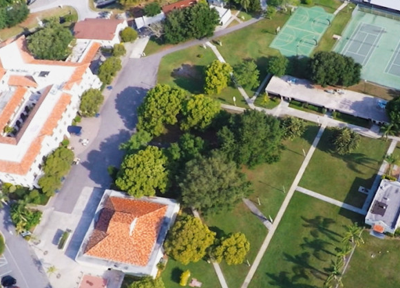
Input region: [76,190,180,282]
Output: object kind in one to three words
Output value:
building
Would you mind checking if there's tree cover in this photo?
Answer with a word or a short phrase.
Yes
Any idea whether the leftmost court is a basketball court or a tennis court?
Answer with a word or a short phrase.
basketball court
